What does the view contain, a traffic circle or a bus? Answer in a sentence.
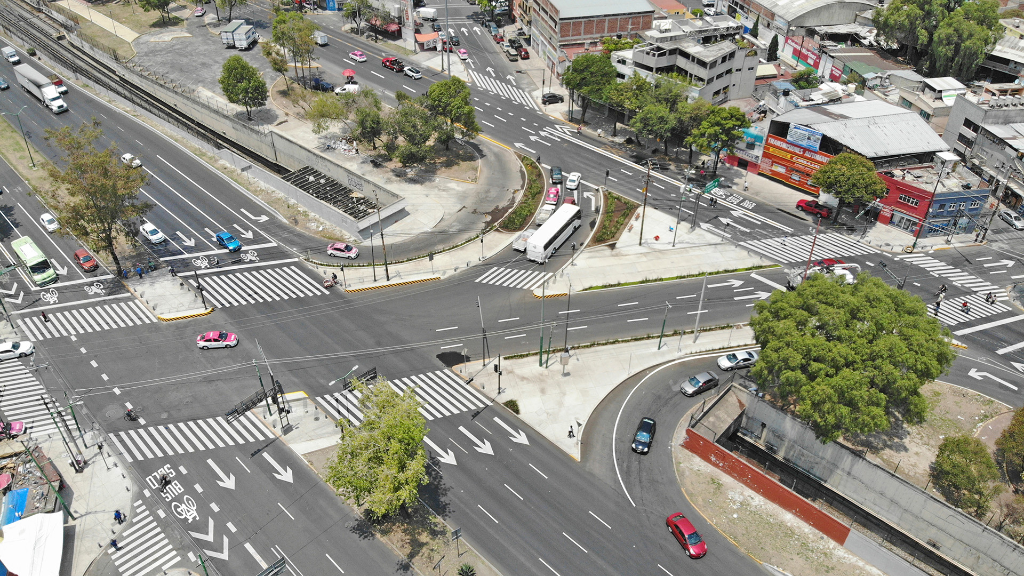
Looking from above, you can make out a bus.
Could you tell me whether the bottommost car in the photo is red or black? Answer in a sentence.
The bottommost car looks red in the image.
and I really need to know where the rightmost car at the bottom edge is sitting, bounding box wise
[667,512,705,561]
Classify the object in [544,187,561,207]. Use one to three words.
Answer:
car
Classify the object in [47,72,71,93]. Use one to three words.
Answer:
truck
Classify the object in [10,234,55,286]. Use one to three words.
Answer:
bus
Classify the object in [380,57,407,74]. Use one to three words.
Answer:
vehicle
